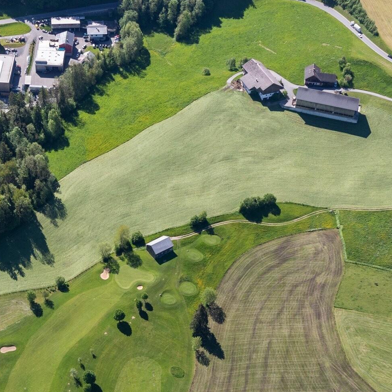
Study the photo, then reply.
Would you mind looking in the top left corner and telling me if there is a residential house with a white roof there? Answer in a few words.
Yes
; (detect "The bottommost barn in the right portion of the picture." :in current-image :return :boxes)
[283,85,360,123]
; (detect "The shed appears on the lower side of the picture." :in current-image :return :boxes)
[147,236,174,257]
